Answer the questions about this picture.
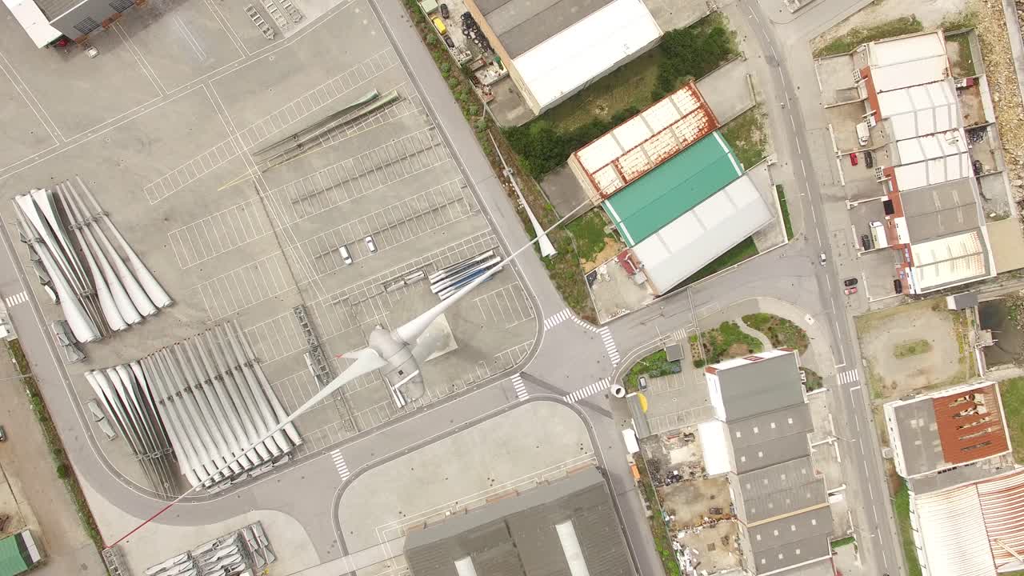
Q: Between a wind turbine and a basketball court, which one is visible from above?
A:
wind turbine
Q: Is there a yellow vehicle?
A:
Yes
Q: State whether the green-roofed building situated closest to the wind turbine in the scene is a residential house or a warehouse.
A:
warehouse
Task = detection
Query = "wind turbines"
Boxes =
[119,180,626,542]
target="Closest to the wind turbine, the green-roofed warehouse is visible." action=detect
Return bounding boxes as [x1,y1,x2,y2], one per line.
[597,130,744,248]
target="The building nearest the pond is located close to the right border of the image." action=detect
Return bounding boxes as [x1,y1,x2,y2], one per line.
[942,291,979,310]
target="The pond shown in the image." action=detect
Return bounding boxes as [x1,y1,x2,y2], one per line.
[979,295,1024,373]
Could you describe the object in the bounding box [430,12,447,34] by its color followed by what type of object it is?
yellow vehicle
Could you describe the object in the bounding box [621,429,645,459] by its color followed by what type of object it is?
white truck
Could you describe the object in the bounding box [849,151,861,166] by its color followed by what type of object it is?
red vehicle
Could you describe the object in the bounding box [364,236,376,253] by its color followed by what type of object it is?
white vehicle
